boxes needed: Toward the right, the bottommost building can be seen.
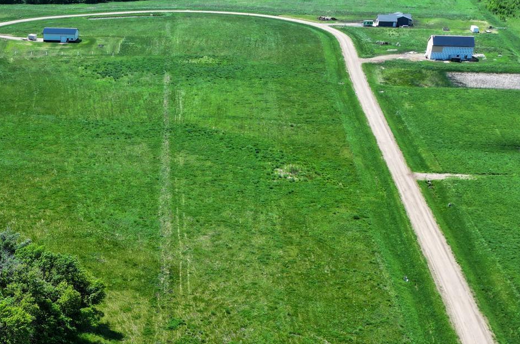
[423,34,476,60]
